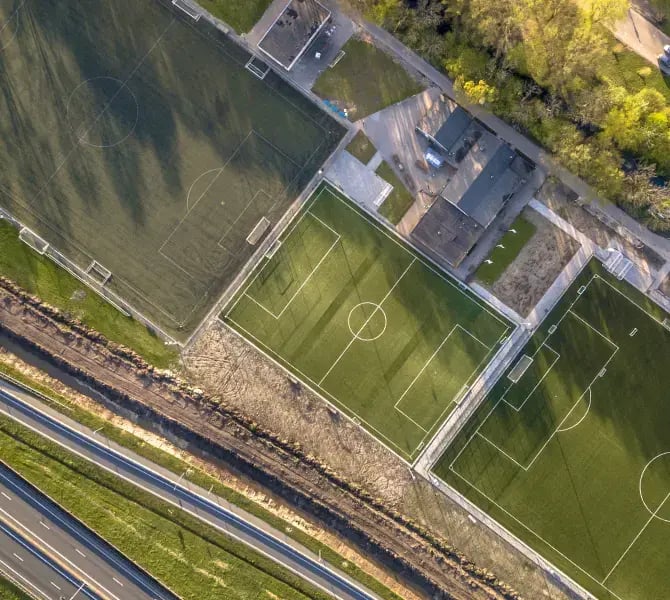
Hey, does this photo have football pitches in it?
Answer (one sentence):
Yes, there is a football pitch in the image.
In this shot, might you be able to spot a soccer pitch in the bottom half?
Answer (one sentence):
Yes, in the bottom half there is a soccer pitch.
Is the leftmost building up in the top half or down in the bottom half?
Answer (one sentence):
You can find the leftmost building in the top half.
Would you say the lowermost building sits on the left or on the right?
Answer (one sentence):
The lowermost building appears in the right half of the scene.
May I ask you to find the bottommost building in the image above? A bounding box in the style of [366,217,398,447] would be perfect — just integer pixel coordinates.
[411,196,485,267]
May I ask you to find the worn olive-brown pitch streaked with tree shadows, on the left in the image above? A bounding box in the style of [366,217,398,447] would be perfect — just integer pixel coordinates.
[0,0,345,347]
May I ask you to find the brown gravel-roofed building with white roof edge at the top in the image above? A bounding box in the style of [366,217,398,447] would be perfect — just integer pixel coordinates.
[258,0,331,72]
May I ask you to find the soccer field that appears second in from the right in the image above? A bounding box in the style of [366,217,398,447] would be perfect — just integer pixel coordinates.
[218,177,519,467]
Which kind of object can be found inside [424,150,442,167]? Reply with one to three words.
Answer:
vehicle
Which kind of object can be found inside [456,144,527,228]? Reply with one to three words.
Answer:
building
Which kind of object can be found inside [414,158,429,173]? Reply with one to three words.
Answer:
car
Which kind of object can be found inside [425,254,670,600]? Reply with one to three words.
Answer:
soccer field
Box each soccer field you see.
[0,0,345,347]
[425,254,670,600]
[218,177,519,467]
